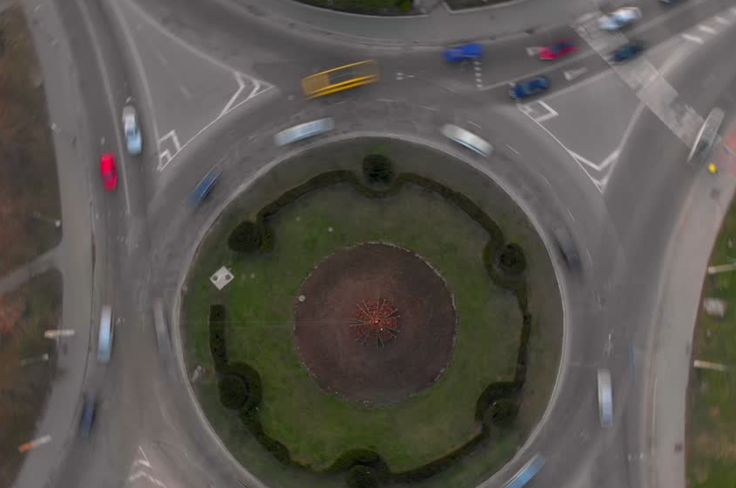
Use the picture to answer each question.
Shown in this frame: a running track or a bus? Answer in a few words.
bus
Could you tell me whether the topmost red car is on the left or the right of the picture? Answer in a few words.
right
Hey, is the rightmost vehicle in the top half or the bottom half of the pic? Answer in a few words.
top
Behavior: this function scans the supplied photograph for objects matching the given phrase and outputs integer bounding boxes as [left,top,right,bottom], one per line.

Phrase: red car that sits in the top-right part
[537,37,578,61]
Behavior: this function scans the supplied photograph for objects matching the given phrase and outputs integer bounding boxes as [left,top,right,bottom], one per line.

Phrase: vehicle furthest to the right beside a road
[680,107,724,165]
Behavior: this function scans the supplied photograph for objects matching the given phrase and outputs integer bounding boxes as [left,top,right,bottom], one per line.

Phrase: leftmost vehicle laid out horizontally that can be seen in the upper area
[275,117,333,144]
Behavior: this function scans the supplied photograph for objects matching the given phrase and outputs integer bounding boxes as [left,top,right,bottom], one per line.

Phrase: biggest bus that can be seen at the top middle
[301,60,379,97]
